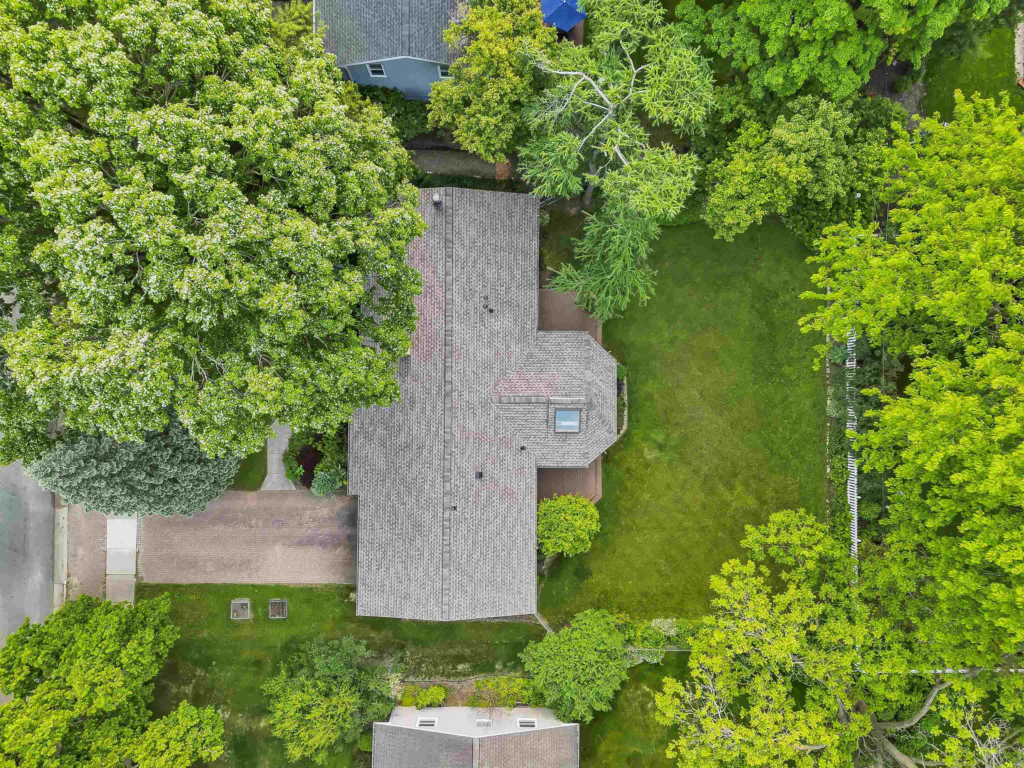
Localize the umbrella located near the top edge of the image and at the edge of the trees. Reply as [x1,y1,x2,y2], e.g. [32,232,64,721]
[543,0,587,37]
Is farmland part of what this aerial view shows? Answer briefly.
No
